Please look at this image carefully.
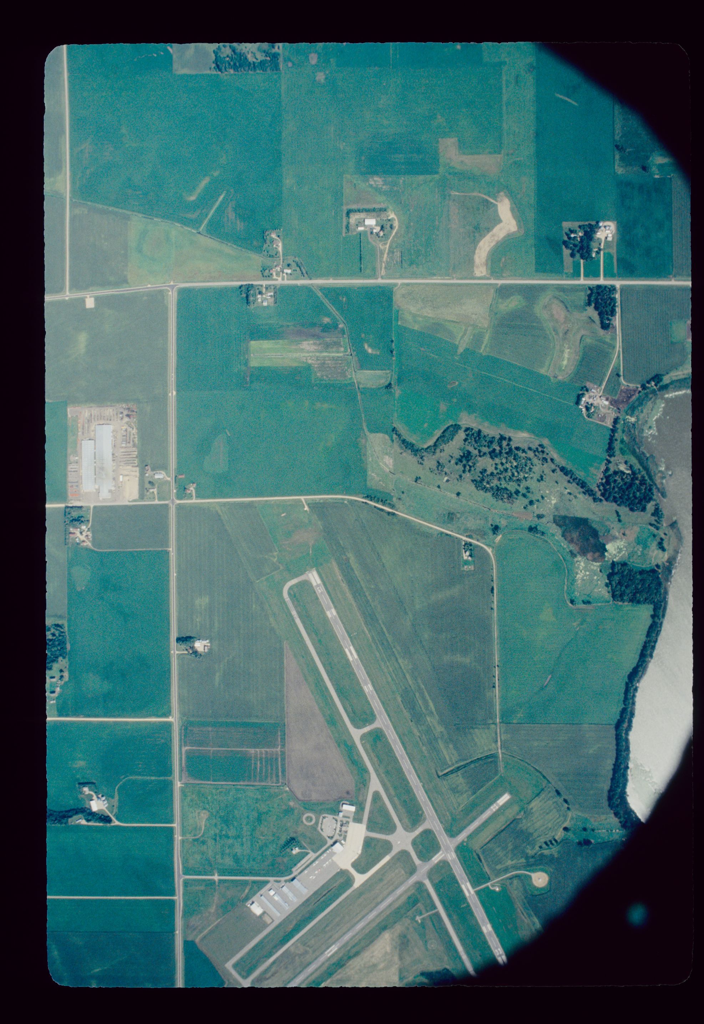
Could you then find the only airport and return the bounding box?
[224,559,553,1024]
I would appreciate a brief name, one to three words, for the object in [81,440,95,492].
shed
